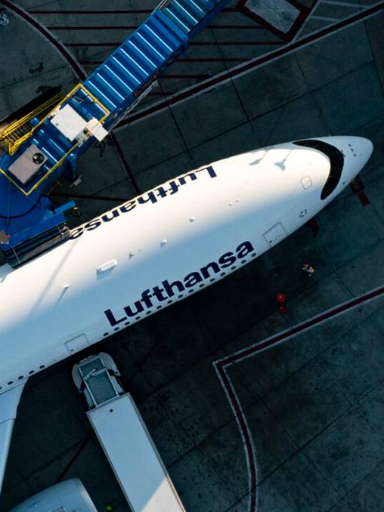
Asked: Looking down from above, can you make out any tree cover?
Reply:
No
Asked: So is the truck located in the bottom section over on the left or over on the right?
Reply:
left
